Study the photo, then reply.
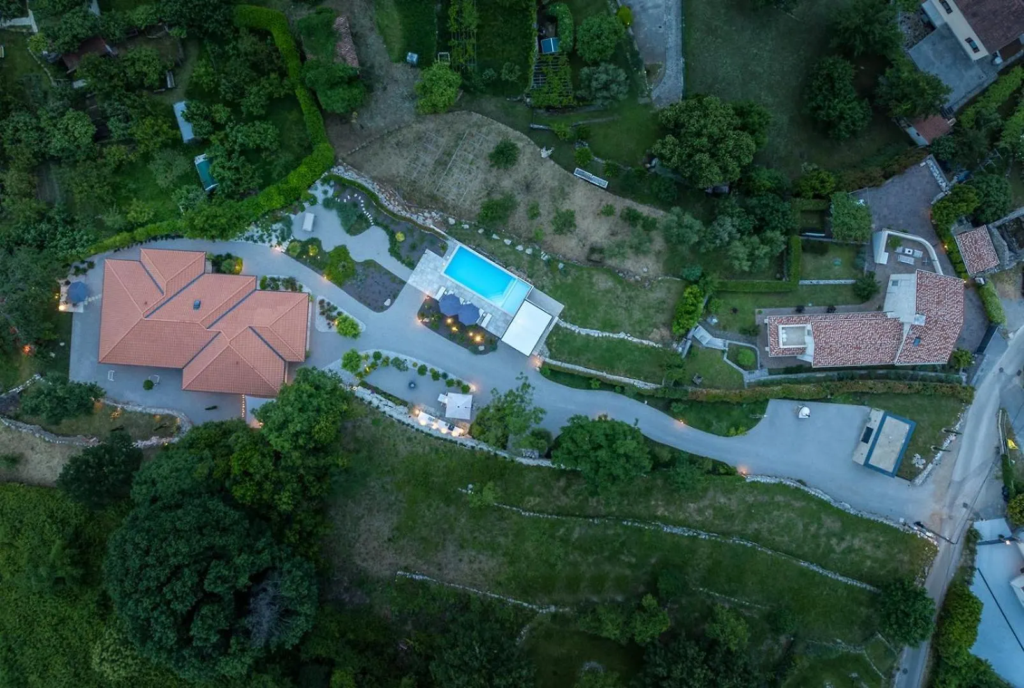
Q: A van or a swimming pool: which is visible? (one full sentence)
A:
Of the two, only a swimming pool appears.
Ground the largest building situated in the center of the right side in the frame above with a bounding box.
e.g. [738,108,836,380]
[763,269,965,368]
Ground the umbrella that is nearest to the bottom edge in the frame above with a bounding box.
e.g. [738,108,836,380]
[446,393,472,419]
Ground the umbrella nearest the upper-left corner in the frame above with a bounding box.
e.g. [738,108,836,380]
[69,282,94,303]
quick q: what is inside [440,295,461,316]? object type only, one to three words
umbrella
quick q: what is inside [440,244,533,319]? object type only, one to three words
swimming pool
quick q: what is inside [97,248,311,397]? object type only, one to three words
house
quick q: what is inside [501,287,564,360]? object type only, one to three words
building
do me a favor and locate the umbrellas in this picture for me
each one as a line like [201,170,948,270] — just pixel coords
[446,393,472,419]
[69,282,94,303]
[440,295,461,316]
[458,303,481,326]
